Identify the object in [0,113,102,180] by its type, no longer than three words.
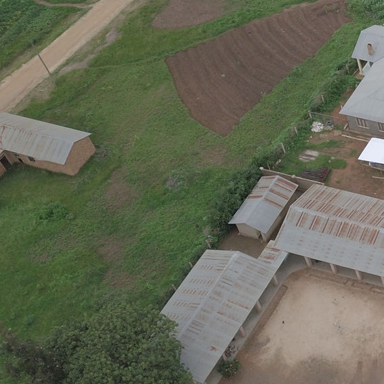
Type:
house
